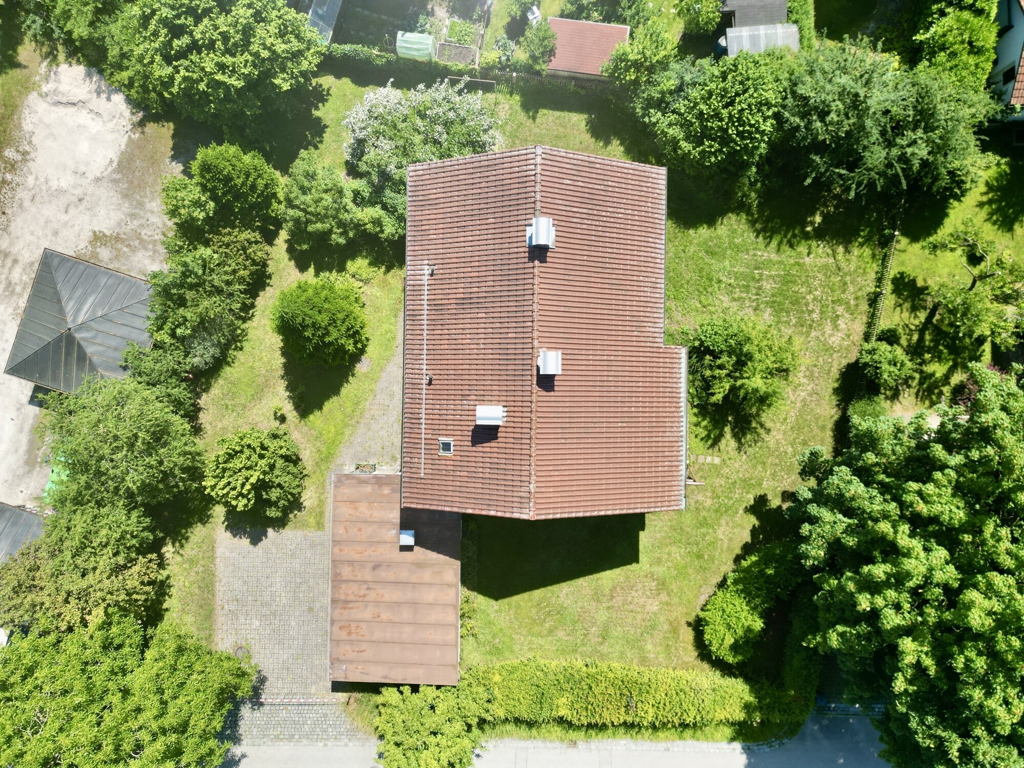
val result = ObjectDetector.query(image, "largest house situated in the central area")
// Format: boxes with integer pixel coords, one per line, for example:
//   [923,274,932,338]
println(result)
[400,145,688,521]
